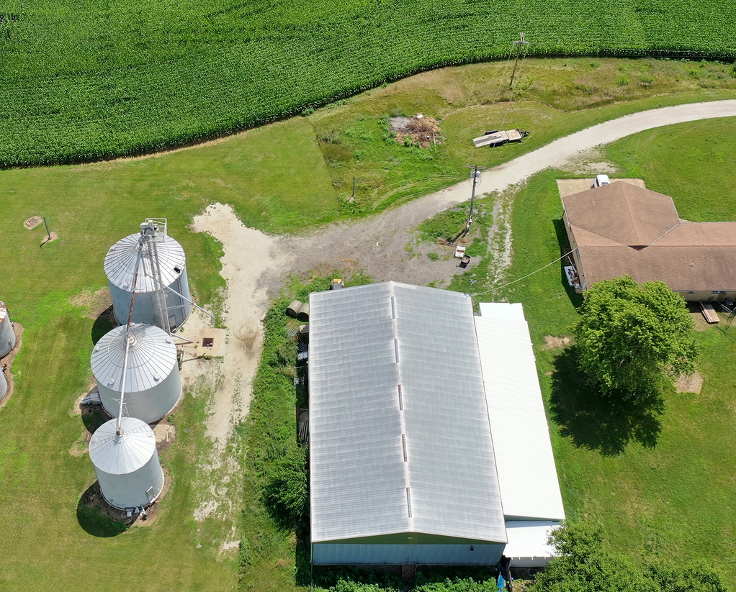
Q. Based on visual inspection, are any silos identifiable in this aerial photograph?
Yes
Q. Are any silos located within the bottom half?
Yes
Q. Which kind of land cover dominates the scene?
grass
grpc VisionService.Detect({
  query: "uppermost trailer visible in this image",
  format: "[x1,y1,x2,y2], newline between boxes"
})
[472,125,531,150]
